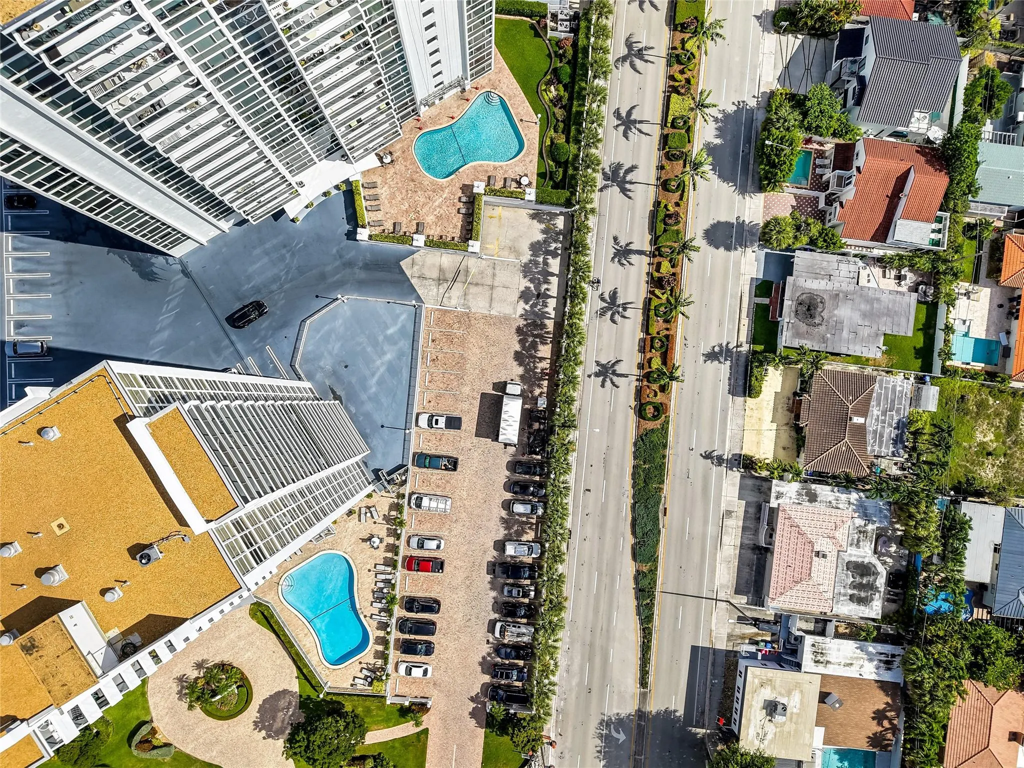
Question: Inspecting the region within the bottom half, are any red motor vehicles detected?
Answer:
Yes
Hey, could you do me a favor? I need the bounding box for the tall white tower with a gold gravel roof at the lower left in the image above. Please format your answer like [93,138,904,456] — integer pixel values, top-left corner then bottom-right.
[0,355,375,768]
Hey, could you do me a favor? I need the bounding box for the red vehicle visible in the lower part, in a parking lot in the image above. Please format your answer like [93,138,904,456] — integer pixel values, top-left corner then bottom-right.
[406,555,444,573]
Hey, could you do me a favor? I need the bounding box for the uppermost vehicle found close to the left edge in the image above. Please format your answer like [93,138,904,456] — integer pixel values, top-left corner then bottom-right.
[2,193,42,211]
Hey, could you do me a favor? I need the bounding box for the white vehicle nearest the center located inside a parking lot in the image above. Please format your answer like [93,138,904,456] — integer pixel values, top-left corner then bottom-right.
[499,380,524,445]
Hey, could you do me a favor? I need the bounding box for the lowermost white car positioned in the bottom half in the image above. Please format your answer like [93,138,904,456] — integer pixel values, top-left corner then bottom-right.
[397,659,434,678]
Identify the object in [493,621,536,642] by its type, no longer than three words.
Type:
vehicle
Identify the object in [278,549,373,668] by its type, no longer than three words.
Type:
swimming pool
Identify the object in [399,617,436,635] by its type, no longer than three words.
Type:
car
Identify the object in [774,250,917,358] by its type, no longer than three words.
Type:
house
